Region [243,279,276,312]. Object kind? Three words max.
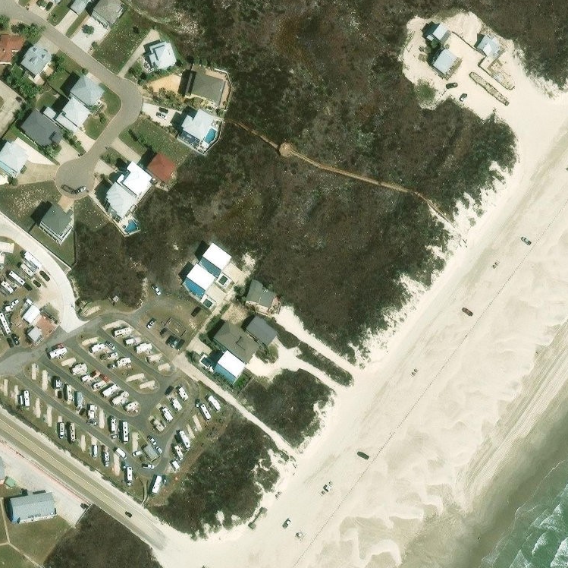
house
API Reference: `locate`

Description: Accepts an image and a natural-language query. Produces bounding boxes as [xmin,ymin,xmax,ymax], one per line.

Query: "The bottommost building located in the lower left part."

[8,490,56,525]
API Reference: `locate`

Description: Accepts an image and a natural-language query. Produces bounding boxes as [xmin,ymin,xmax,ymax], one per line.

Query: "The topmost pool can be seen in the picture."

[198,128,218,151]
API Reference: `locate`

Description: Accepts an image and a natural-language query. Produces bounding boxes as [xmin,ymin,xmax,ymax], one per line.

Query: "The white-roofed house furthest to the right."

[478,33,503,59]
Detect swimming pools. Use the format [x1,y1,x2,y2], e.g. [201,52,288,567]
[217,272,232,288]
[119,215,141,236]
[200,355,213,369]
[200,295,216,309]
[198,128,218,151]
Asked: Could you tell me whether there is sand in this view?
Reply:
Yes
